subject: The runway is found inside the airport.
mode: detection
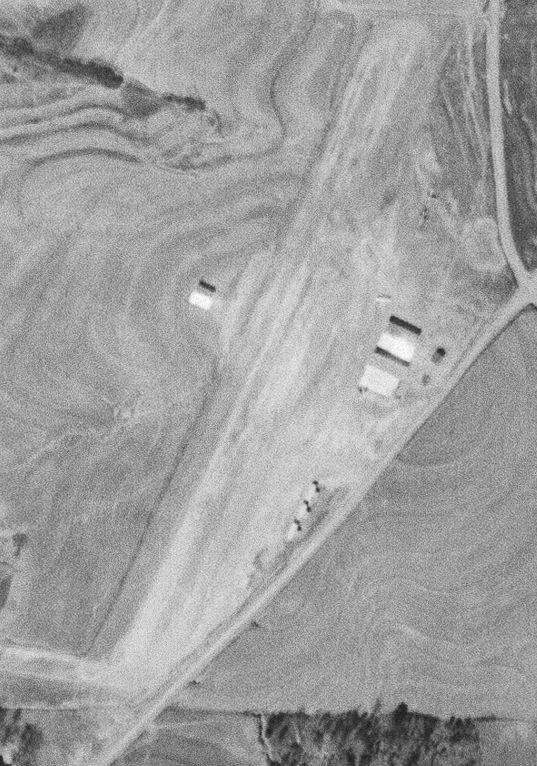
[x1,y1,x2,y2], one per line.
[108,24,444,672]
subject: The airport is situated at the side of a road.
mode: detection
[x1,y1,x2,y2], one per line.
[108,24,470,672]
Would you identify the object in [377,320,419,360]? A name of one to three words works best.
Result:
hangar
